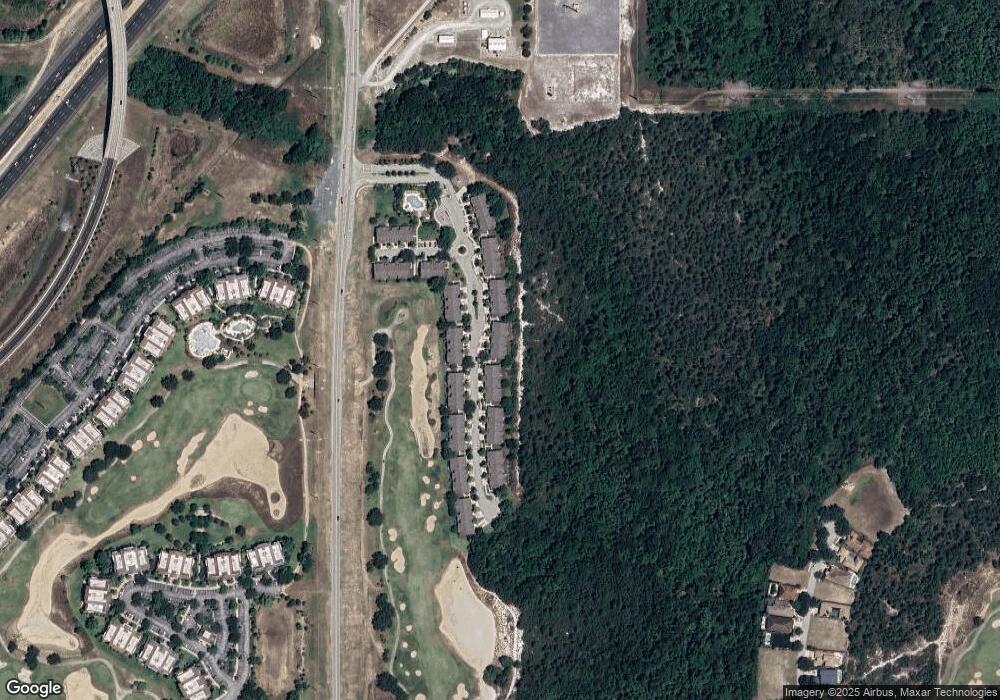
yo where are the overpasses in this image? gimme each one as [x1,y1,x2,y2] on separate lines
[77,0,140,163]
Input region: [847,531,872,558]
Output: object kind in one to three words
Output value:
house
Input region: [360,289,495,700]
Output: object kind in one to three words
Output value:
golf course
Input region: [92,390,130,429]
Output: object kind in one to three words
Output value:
building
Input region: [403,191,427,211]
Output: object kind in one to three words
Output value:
swimming pool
